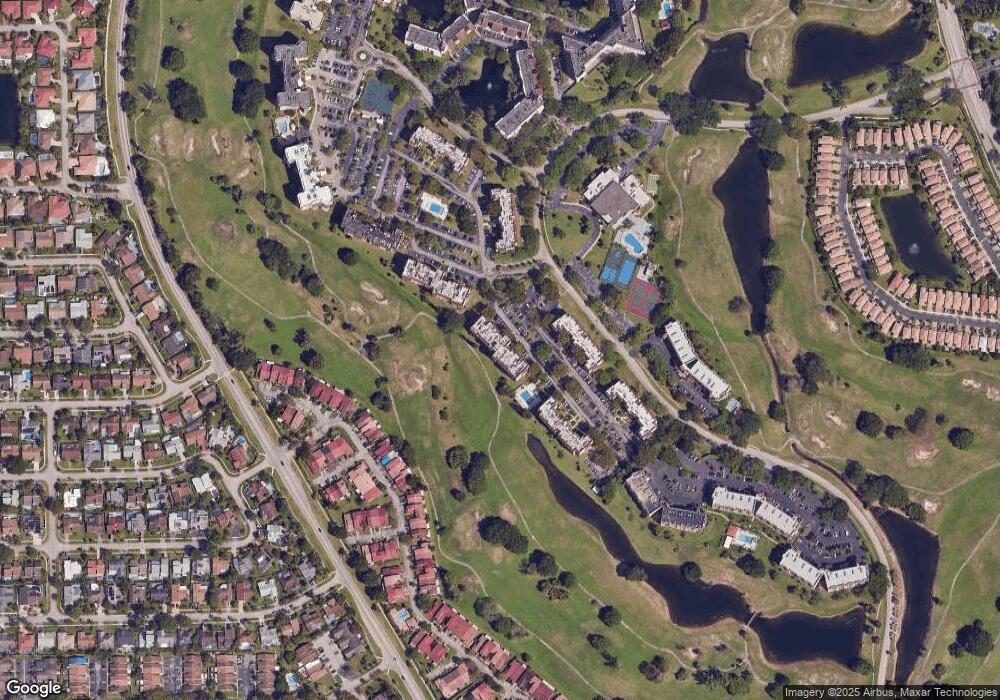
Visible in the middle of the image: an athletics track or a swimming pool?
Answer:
swimming pool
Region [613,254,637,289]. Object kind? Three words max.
tennis court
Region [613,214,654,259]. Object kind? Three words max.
swimming pool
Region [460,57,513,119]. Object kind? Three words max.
pond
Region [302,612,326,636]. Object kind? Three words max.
house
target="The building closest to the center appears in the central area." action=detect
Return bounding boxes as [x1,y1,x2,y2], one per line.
[470,315,529,384]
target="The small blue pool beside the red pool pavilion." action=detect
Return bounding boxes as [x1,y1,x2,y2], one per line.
[733,530,757,549]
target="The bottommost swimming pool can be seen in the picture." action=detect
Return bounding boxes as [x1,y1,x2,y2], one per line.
[285,672,299,690]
